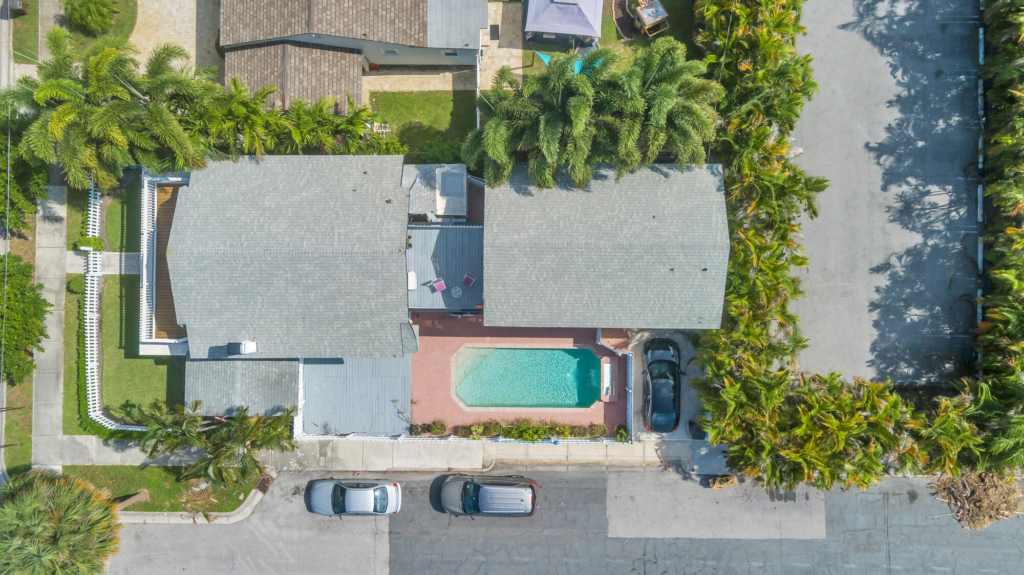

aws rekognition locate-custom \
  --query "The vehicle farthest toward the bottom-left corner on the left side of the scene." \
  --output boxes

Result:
[311,475,403,518]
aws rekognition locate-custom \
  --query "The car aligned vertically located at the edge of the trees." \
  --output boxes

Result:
[641,337,683,434]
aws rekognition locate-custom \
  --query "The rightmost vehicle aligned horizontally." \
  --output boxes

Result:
[440,470,538,517]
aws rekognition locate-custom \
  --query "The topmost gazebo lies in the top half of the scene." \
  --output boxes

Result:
[524,0,601,50]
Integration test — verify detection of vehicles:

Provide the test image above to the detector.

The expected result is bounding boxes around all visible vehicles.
[440,470,538,517]
[311,475,403,518]
[641,337,683,434]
